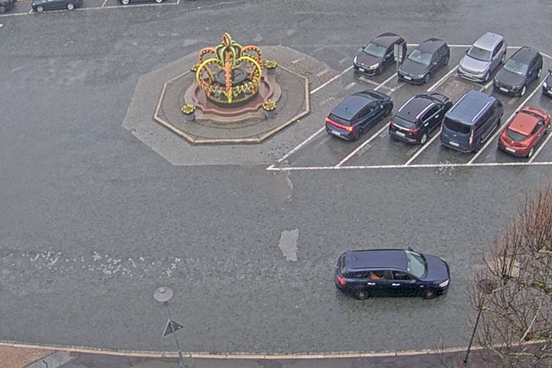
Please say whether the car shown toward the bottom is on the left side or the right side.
right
